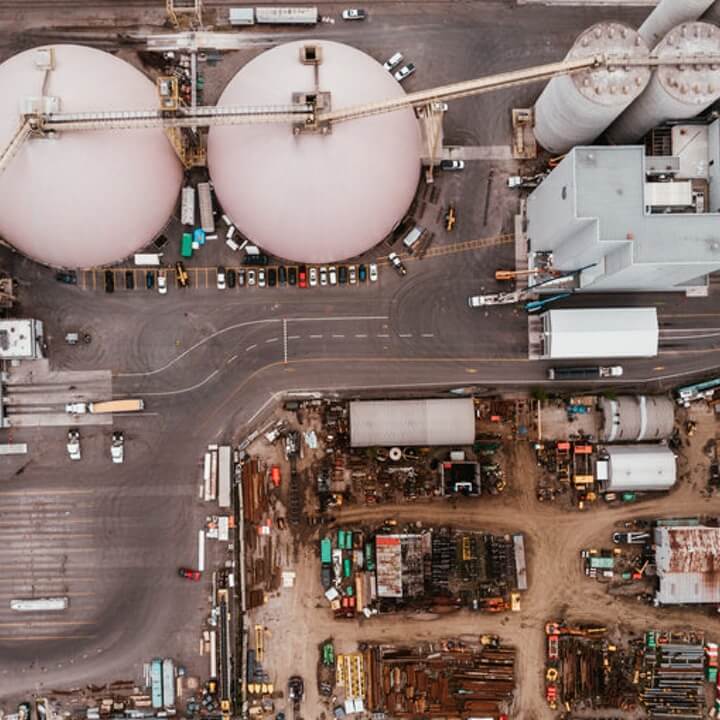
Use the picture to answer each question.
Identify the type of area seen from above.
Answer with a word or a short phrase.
industrial area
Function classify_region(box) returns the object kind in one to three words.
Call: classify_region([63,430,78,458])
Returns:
vehicle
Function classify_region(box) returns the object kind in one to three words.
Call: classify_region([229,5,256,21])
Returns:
rail car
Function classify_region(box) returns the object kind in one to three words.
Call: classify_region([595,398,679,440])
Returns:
shed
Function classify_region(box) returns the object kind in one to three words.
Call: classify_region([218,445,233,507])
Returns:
trailer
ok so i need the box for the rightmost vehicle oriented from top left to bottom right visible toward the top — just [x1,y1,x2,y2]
[387,250,409,277]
